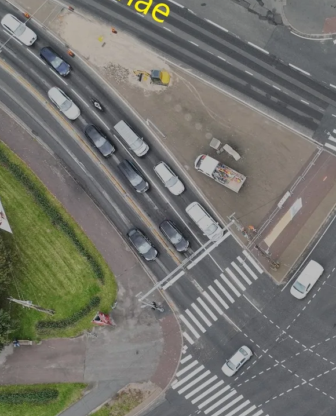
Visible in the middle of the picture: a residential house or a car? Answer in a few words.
car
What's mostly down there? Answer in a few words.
paved ground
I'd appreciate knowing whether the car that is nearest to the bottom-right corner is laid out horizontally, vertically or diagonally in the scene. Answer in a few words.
diagonally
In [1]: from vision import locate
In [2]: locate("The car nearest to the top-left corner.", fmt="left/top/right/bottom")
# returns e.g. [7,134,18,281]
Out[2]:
[0,10,39,48]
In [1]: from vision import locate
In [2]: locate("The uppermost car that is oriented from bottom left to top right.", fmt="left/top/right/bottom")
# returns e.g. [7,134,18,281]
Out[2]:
[291,258,324,300]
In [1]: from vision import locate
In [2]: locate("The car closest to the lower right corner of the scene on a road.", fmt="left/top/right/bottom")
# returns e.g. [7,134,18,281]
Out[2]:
[220,343,256,379]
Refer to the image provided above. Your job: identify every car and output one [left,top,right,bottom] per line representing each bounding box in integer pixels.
[0,10,39,48]
[291,258,324,300]
[124,225,161,264]
[81,121,117,159]
[110,116,151,158]
[45,83,82,122]
[156,217,192,255]
[220,343,256,379]
[115,155,152,196]
[149,158,187,198]
[36,44,73,78]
